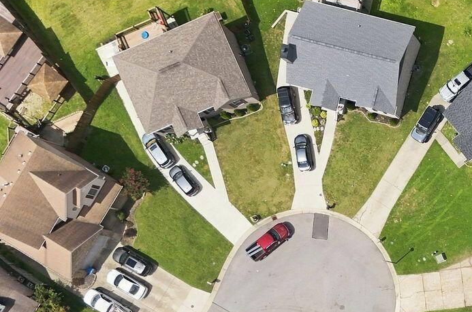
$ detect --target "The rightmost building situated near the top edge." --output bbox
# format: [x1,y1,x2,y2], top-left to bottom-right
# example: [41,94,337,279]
[282,0,420,123]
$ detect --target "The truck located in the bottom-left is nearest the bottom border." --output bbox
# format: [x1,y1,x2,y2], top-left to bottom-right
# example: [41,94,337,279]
[80,286,137,312]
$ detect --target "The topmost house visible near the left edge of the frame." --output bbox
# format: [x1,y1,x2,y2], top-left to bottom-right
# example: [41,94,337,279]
[0,129,128,281]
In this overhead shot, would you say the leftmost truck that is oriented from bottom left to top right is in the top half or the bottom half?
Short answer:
bottom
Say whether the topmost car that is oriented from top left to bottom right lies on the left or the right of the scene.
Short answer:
left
